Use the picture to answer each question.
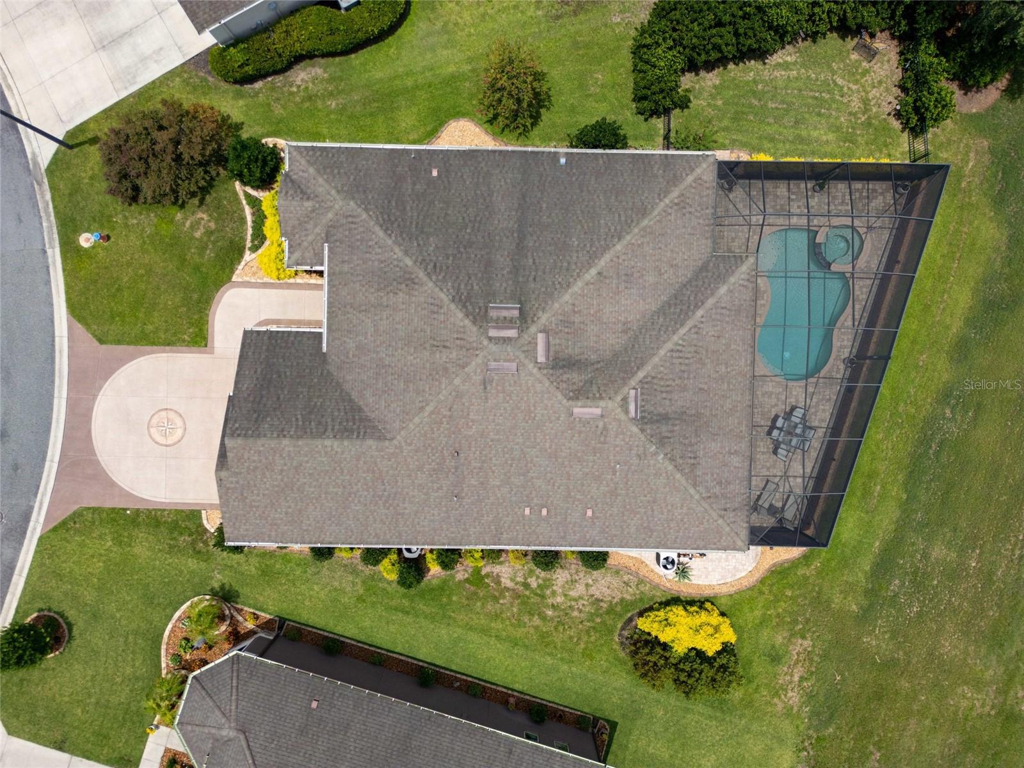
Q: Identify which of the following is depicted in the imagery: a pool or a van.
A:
pool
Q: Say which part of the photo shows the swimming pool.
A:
right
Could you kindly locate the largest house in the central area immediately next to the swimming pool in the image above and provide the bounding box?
[215,144,757,554]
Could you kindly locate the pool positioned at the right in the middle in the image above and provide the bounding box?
[753,220,865,386]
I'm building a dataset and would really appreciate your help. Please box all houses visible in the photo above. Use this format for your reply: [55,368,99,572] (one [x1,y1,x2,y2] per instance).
[215,144,757,554]
[179,0,306,44]
[175,631,624,768]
